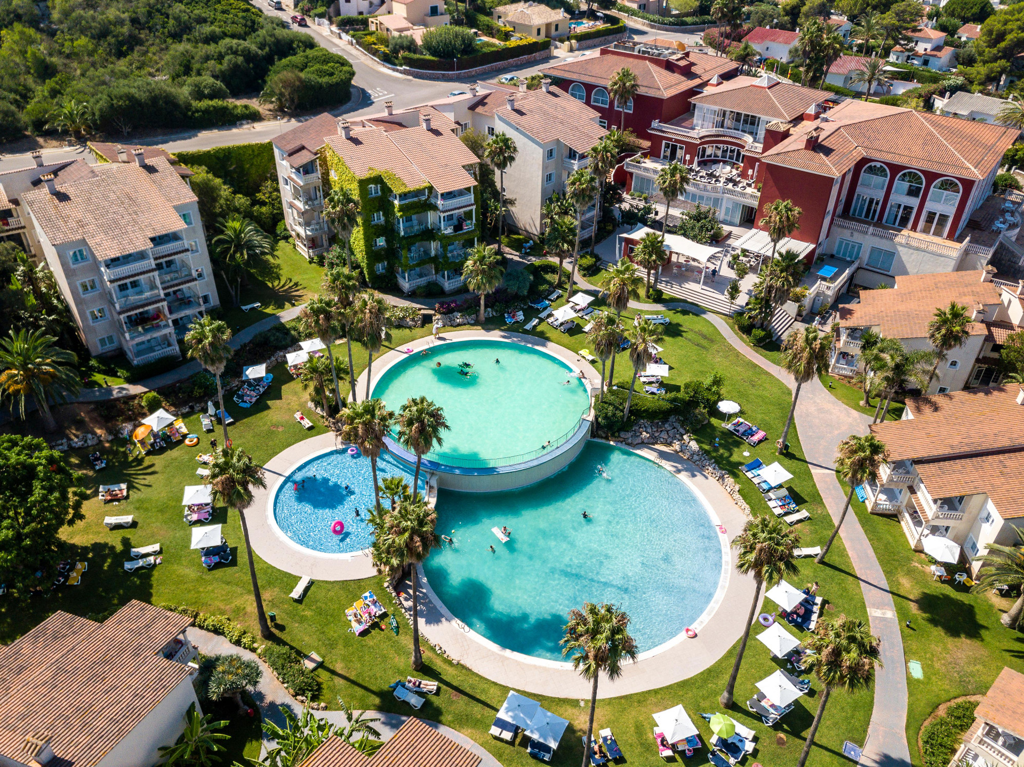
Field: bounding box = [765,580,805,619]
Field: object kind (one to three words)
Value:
umbrella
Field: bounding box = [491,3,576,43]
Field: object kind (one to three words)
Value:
house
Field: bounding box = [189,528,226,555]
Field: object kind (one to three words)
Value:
umbrella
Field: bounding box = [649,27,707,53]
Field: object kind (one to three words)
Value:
house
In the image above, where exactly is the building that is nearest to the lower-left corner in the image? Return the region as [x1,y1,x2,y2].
[0,587,204,767]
